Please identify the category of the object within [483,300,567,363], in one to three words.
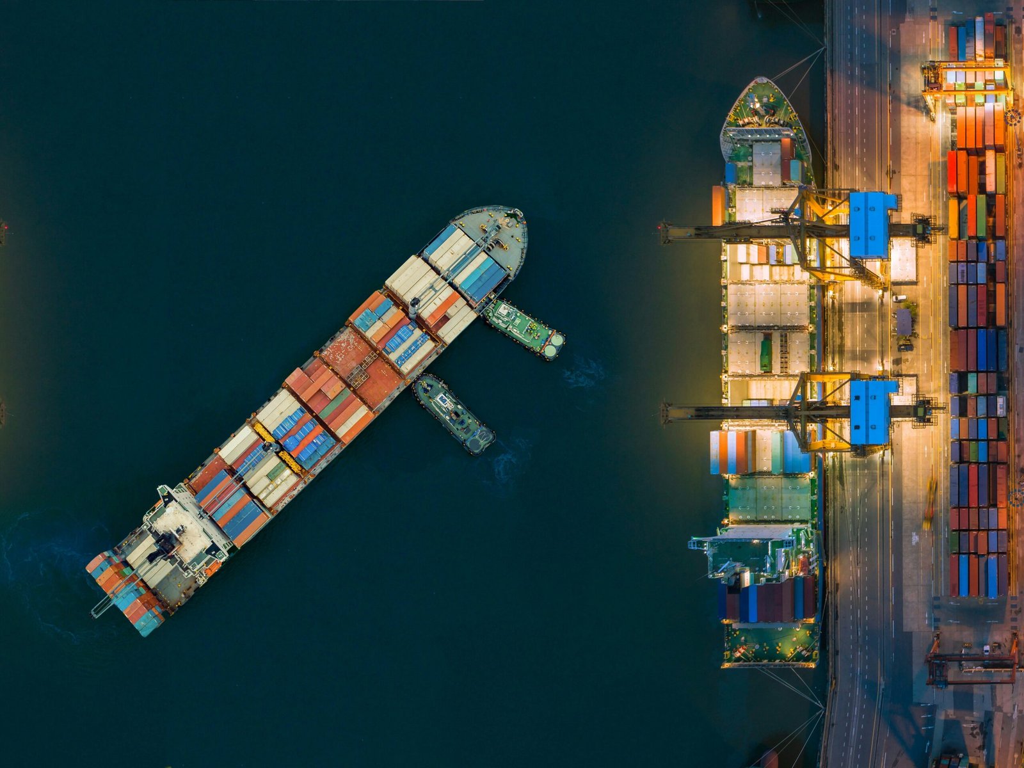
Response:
boat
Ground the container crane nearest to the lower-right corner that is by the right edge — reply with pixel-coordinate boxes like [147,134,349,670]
[925,632,1020,688]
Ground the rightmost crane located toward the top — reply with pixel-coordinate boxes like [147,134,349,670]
[921,61,1012,124]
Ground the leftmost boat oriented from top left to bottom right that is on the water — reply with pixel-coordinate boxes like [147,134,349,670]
[410,372,498,457]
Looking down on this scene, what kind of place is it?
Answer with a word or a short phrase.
port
